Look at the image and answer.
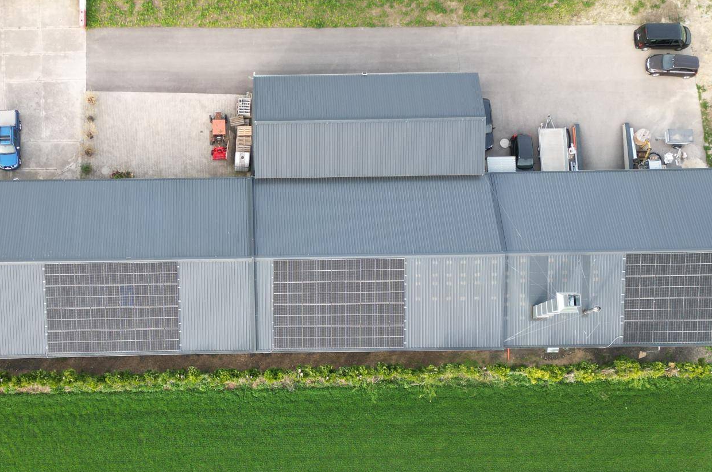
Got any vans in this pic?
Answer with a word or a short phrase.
Yes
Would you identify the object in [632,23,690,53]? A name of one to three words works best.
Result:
van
